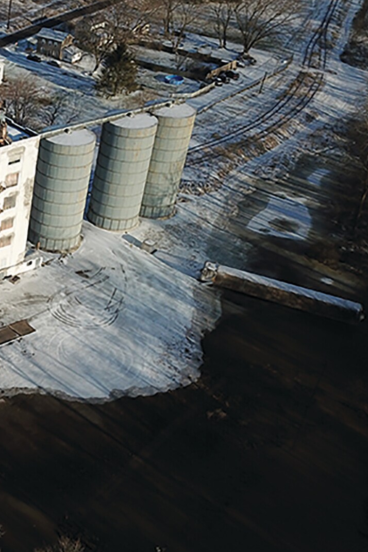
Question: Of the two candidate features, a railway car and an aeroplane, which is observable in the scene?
railway car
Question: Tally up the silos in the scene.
3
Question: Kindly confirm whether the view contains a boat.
No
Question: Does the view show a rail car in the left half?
No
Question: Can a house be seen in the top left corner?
Yes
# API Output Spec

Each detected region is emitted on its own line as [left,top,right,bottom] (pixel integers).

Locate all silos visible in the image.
[29,120,97,254]
[86,103,158,231]
[140,98,195,218]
